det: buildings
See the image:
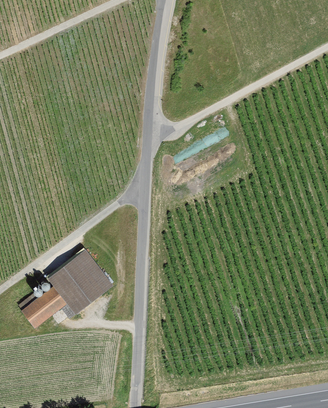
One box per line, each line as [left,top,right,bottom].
[48,248,112,314]
[22,286,66,328]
